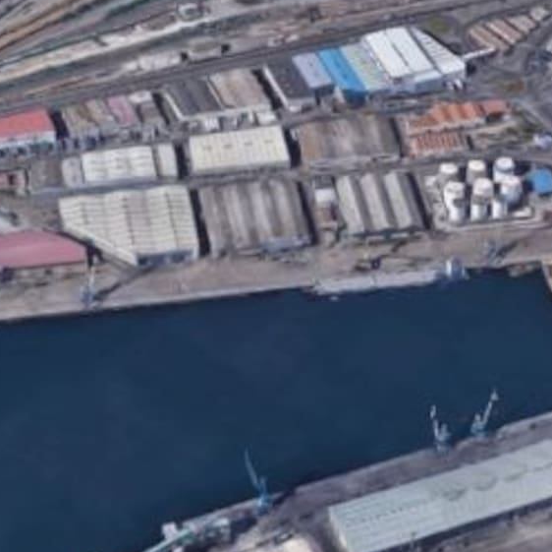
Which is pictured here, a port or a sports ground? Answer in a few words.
port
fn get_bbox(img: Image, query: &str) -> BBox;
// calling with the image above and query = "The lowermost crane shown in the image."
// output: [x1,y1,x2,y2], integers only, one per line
[251,444,274,514]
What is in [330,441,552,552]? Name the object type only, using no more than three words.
warehouse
